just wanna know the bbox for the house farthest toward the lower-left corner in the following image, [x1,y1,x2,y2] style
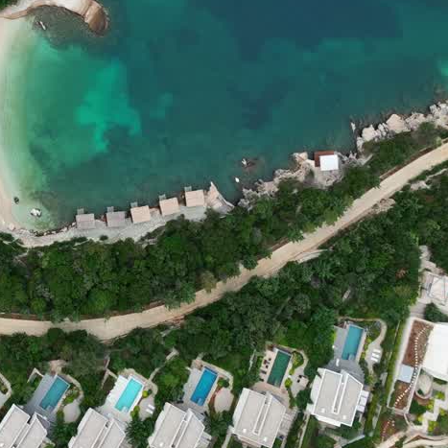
[0,399,54,448]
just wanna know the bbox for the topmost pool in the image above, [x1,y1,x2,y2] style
[340,323,365,361]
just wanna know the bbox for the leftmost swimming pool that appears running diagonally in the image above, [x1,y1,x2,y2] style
[38,375,71,414]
